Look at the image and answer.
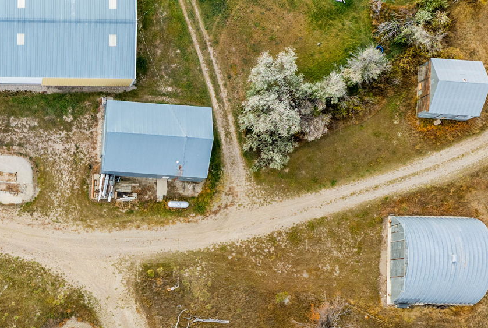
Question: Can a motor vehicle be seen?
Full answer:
No, there isn't any motor vehicle down there.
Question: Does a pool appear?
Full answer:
No, there isn't any pool down there.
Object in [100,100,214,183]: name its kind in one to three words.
building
